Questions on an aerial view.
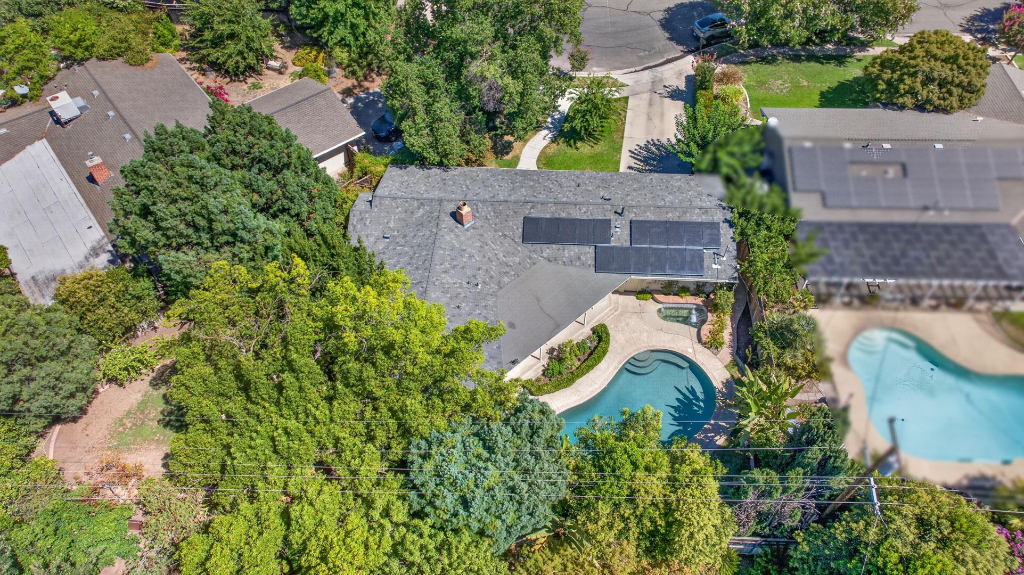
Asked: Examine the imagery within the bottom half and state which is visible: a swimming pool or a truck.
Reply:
swimming pool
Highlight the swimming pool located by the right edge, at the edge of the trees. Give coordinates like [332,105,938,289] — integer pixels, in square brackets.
[841,323,1024,467]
